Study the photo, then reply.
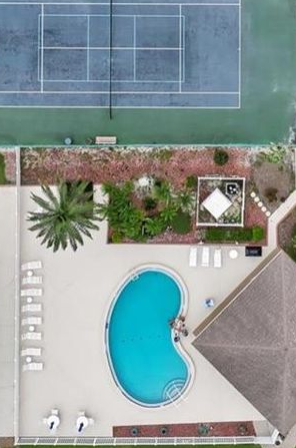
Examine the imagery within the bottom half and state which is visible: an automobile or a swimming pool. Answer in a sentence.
Looking within the bottom half, you will find a swimming pool.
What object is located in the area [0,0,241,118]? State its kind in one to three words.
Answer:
tennis court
